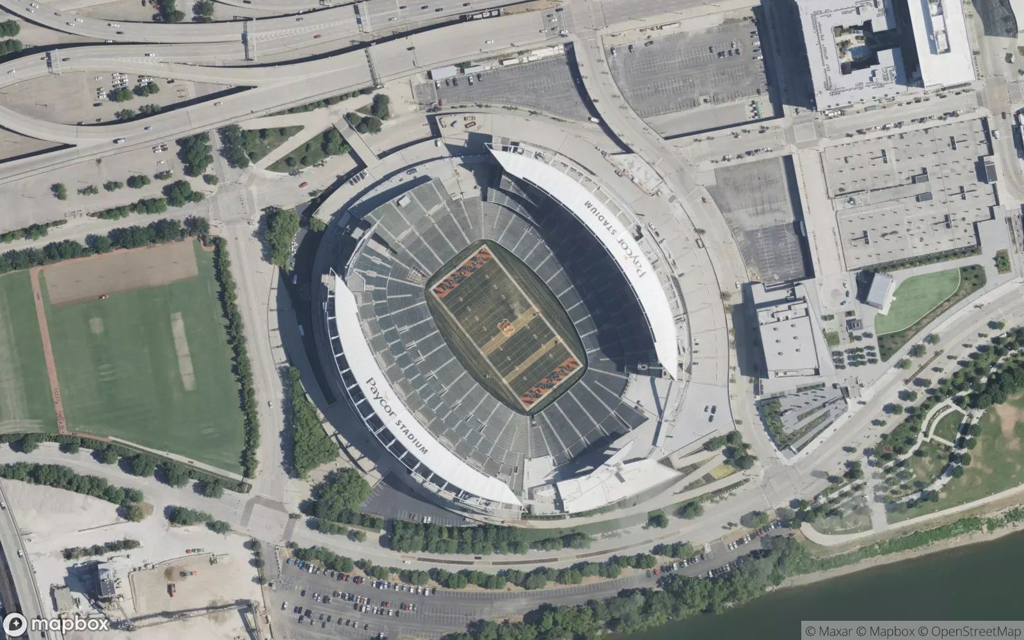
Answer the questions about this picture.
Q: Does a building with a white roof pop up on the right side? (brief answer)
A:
Yes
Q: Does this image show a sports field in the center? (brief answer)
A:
Yes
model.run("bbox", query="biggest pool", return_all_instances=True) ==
[852,45,871,59]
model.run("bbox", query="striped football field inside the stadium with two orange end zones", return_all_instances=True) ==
[425,241,587,416]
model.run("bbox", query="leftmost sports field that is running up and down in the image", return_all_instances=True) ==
[0,269,58,433]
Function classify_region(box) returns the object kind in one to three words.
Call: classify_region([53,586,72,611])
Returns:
building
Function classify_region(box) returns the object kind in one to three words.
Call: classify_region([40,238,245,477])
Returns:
sports field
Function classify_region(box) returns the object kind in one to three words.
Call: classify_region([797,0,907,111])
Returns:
building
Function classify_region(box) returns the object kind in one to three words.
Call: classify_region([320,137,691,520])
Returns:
stadium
